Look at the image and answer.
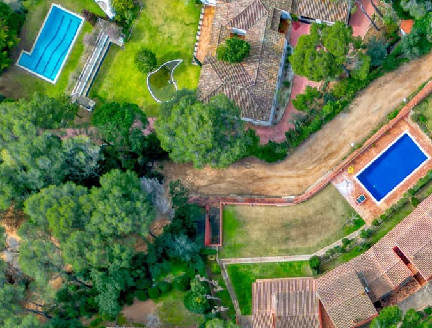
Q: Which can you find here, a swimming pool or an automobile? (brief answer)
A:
swimming pool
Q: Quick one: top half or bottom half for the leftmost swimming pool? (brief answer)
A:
top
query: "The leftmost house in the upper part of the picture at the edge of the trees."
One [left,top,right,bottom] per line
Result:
[194,0,352,127]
